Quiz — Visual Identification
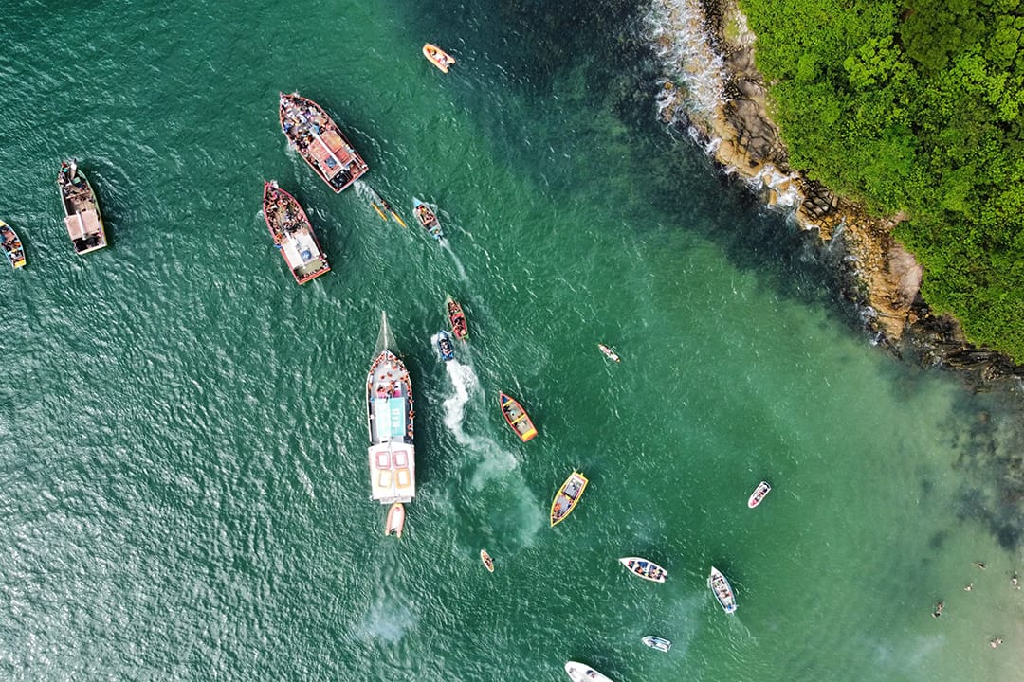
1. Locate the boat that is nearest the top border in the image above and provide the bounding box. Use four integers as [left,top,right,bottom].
[423,42,456,76]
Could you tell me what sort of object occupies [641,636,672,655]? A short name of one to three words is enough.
boat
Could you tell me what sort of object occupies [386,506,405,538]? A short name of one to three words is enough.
boat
